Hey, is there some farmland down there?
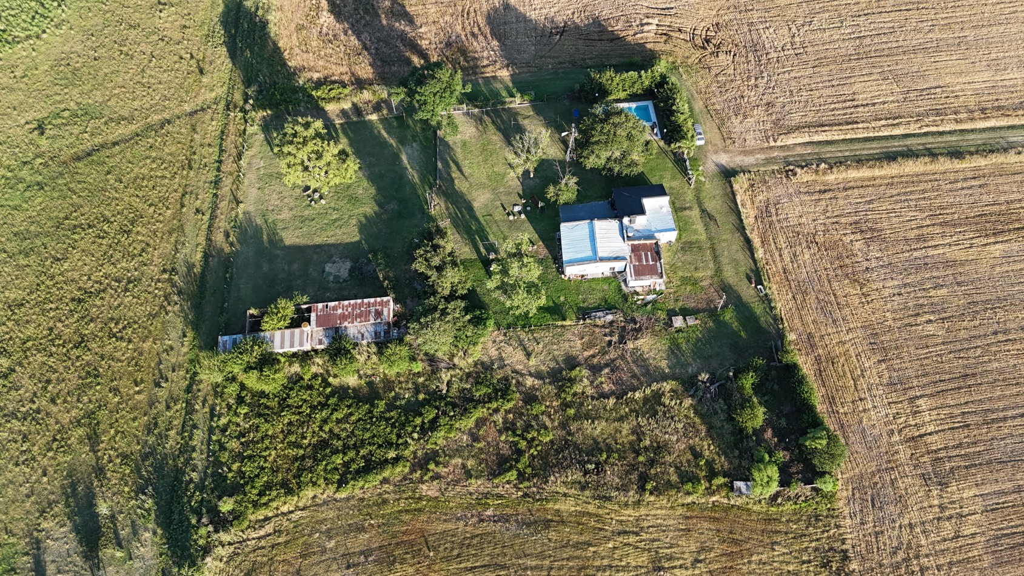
Yes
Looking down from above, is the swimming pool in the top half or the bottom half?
top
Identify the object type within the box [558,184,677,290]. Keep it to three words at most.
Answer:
house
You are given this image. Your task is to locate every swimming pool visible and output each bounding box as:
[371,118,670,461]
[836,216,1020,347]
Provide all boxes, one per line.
[593,100,662,139]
